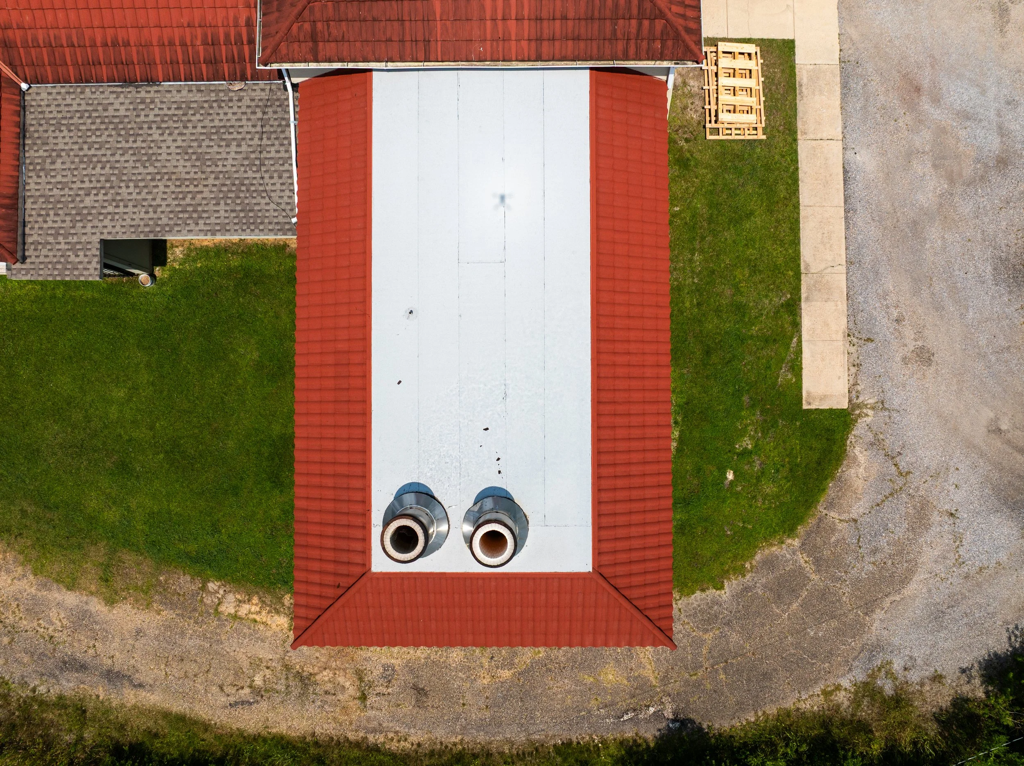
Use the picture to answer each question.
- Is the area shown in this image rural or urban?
urban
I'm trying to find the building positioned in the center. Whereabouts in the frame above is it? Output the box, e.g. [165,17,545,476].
[288,70,679,652]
